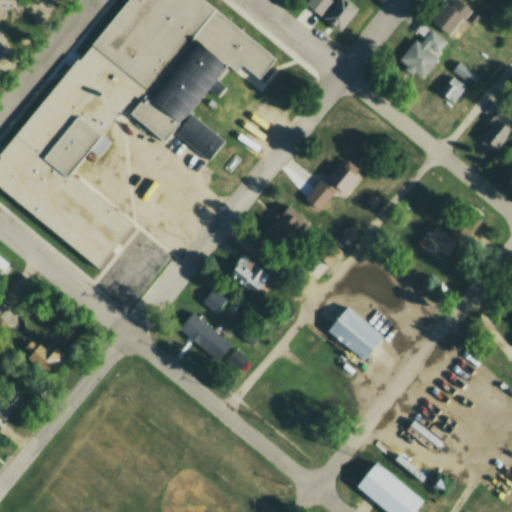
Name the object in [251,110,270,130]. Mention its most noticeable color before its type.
yellow vehicle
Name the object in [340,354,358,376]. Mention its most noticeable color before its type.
white vehicle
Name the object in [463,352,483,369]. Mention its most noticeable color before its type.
white vehicle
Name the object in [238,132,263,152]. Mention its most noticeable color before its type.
white bus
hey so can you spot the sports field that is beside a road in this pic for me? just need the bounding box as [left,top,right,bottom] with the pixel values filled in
[12,367,290,512]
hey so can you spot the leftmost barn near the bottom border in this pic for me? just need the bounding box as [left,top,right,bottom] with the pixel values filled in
[358,464,426,512]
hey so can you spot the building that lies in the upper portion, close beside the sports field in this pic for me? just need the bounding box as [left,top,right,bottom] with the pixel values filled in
[0,0,277,268]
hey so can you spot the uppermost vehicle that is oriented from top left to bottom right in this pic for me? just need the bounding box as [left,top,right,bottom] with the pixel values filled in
[312,28,328,42]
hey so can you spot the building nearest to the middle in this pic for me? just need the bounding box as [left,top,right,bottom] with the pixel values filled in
[234,258,270,290]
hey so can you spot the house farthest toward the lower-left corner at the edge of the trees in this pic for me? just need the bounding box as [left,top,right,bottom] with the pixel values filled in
[28,341,60,372]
